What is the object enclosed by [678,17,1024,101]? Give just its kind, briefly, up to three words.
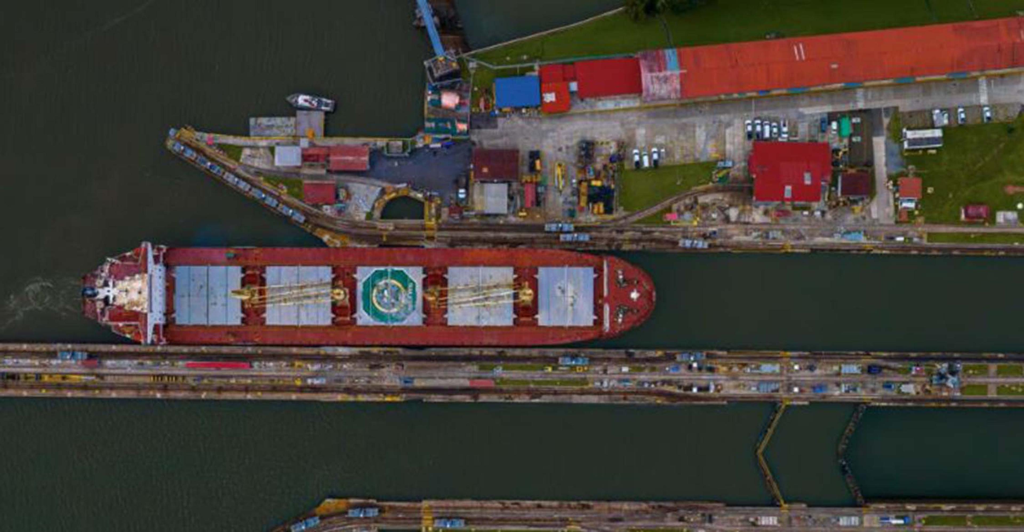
building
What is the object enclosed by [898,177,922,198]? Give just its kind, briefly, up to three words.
shed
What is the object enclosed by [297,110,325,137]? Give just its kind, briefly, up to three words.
pier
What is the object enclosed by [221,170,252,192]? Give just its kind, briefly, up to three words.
rail car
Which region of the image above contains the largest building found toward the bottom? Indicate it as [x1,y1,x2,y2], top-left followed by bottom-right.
[937,362,967,391]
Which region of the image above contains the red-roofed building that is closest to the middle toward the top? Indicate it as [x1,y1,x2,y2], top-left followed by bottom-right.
[475,149,518,181]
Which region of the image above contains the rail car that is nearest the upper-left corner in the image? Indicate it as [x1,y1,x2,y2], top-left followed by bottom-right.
[168,137,199,158]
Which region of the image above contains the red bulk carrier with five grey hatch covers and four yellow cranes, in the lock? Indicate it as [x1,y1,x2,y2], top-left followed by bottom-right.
[82,242,655,346]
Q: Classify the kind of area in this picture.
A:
port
